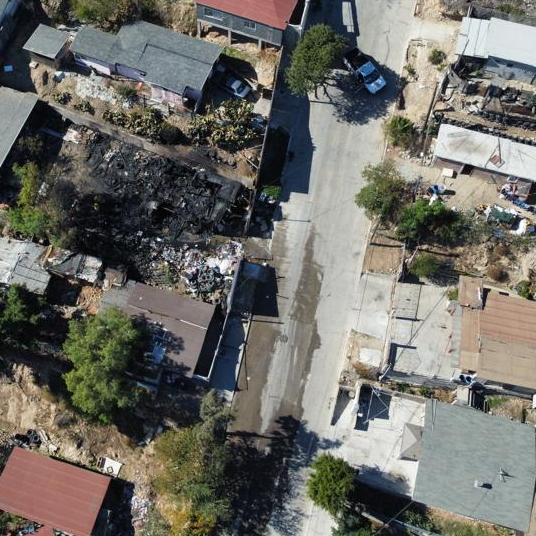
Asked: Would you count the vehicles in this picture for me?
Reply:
2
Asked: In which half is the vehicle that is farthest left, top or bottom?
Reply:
top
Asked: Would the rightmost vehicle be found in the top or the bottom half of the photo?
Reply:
top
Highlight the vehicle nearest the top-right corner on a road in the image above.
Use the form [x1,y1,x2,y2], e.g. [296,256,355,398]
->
[344,47,388,94]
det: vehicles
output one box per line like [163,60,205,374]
[344,47,388,94]
[212,60,258,103]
